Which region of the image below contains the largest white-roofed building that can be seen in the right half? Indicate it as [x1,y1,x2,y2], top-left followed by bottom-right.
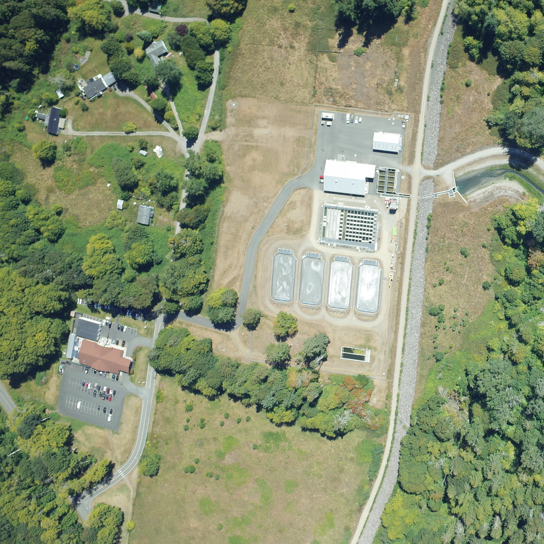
[324,159,375,195]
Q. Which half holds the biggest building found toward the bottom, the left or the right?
left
